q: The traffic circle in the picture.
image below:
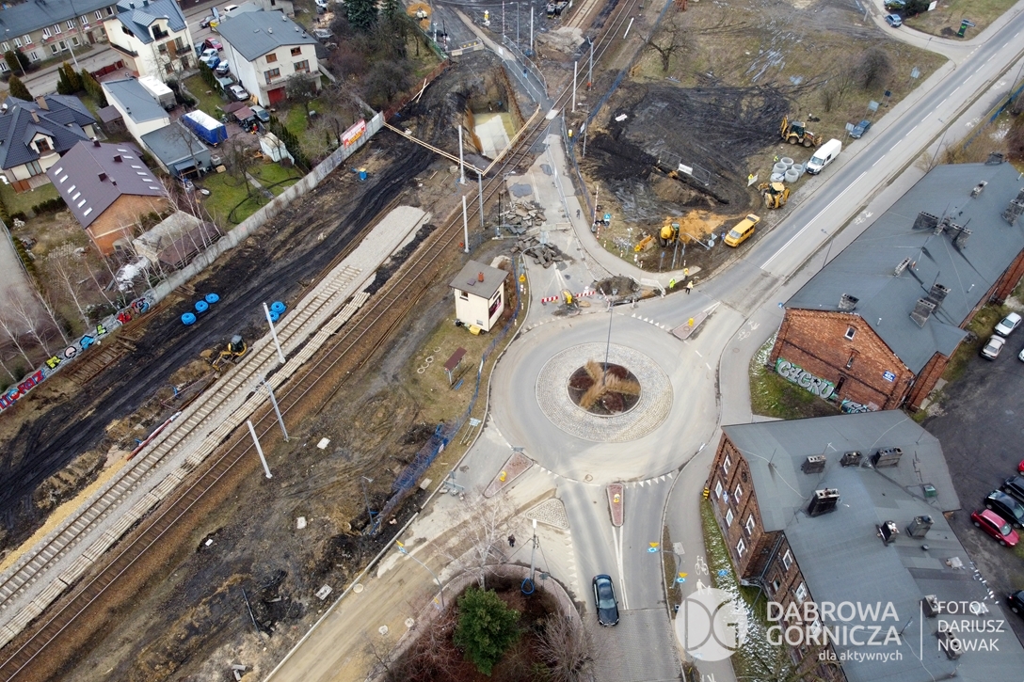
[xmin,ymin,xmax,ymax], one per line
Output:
[489,312,722,482]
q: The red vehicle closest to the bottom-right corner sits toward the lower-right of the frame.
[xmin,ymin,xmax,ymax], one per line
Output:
[973,507,1024,547]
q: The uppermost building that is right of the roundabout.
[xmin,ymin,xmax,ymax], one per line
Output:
[768,150,1024,413]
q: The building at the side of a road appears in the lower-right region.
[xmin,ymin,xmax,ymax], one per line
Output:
[699,407,1024,682]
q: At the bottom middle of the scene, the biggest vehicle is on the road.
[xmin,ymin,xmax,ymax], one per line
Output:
[593,572,621,626]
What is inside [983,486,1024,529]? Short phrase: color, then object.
black car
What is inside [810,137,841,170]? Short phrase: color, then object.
white van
